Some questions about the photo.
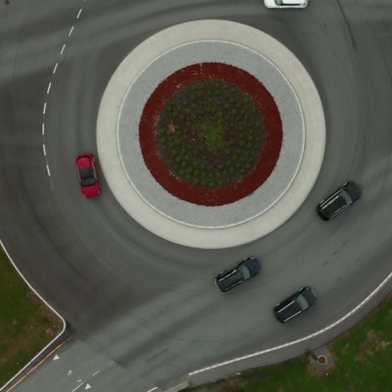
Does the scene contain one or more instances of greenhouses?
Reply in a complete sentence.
No, no greenhouse is visible in the view.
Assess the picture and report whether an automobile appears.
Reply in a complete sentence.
Yes, an automobile is visible in the scene.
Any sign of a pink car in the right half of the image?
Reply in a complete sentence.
No, no pink car appears in the right half of the image.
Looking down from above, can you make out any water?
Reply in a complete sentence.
No, the scene doesn't show any water.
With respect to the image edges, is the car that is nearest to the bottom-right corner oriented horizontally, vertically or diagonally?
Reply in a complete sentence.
Seen from above, the car that is nearest to the bottom-right corner lies diagonally.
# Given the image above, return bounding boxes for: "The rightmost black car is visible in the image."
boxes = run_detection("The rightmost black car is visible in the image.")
[318,183,360,219]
